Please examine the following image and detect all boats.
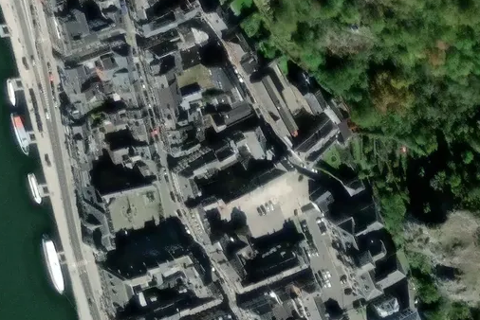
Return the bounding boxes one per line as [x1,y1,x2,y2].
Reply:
[41,236,63,293]
[28,173,40,204]
[8,79,17,107]
[11,114,28,156]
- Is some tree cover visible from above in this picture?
Yes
